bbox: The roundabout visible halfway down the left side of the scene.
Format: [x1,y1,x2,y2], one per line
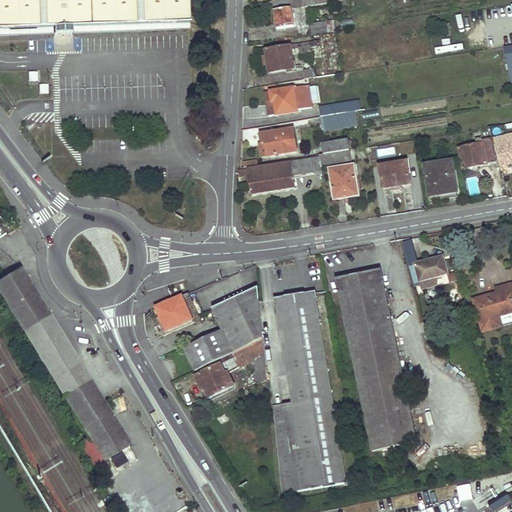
[48,208,196,319]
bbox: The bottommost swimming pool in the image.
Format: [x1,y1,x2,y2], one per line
[466,176,481,196]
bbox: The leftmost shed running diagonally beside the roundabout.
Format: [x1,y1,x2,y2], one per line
[0,266,128,460]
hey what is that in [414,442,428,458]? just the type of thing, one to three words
vehicle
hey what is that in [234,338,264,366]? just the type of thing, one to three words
shed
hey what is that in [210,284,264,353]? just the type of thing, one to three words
building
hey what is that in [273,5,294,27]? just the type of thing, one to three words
house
